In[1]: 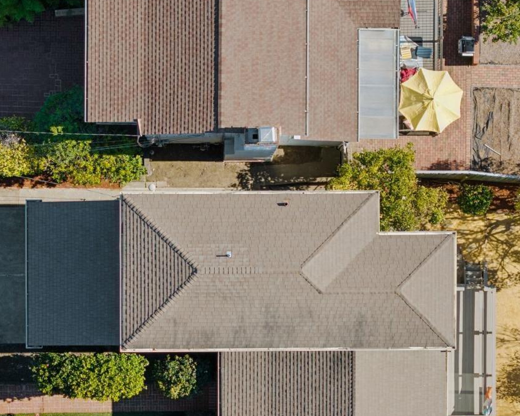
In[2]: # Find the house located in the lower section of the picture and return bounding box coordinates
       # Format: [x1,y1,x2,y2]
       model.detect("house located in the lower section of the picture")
[23,188,461,416]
